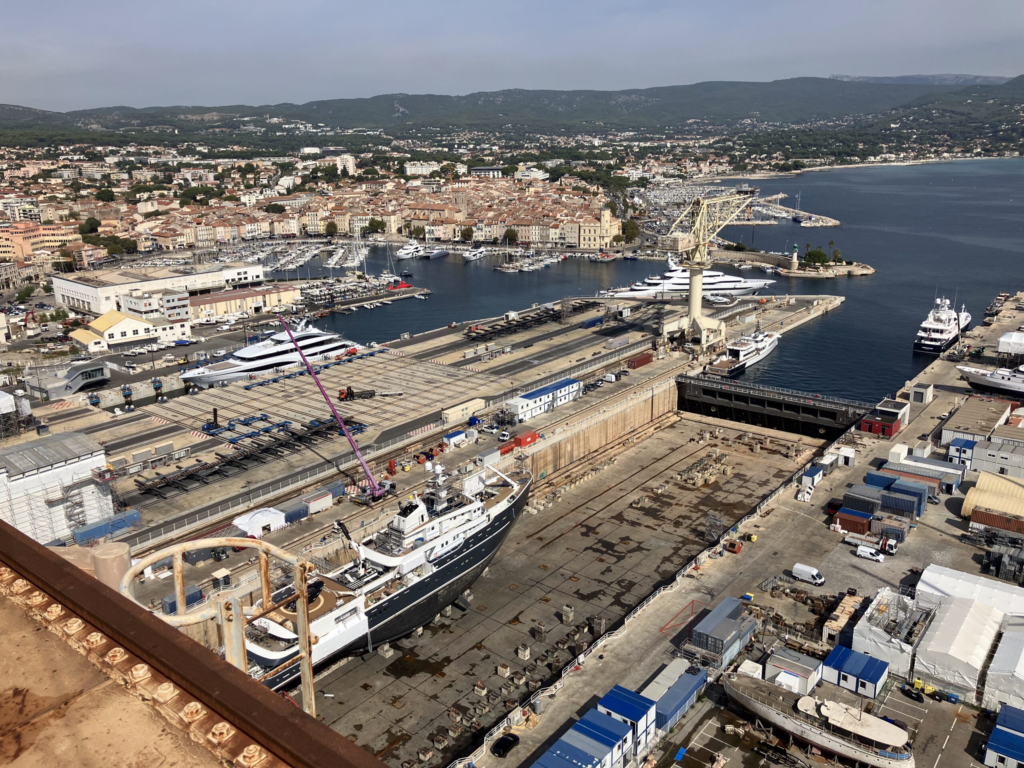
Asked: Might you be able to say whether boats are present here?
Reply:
Yes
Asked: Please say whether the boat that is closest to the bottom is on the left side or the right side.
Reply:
right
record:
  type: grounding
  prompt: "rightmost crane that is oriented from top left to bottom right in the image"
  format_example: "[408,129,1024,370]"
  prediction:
[277,314,404,510]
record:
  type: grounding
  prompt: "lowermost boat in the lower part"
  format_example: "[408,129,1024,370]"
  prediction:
[718,676,923,768]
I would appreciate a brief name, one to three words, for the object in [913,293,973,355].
boat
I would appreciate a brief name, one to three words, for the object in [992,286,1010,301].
vessel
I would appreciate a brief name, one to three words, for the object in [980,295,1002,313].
vessel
